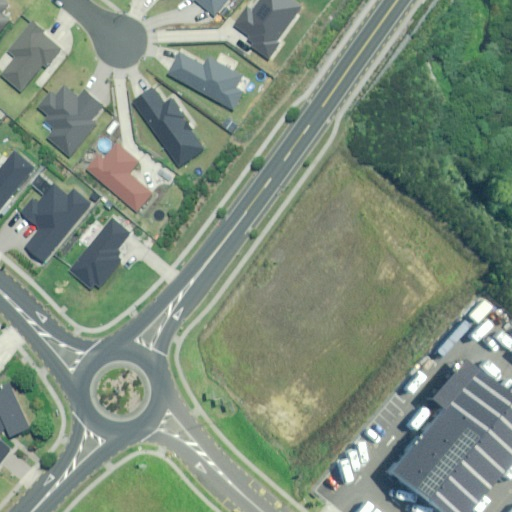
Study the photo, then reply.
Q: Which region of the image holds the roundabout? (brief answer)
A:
bottom left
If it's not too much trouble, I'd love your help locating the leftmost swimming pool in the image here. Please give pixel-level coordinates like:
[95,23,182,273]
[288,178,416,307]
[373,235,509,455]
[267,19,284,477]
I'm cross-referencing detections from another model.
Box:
[97,138,112,154]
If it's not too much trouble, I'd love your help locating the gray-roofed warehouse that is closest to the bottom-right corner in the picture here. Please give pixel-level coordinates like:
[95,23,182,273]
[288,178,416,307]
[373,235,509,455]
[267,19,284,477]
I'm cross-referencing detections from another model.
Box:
[386,358,512,512]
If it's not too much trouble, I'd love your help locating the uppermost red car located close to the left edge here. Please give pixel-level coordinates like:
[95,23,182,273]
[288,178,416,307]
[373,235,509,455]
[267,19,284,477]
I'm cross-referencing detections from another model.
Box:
[23,224,38,238]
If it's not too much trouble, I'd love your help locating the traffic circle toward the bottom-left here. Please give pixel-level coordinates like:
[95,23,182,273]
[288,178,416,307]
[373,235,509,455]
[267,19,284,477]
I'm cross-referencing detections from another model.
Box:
[72,342,170,440]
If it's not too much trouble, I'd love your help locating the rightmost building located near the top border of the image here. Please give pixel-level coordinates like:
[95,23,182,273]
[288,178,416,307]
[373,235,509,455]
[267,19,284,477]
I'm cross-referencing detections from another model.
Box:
[233,0,303,62]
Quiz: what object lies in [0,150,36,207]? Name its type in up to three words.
house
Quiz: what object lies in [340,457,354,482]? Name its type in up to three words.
vehicle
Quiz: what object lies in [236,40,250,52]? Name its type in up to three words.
vehicle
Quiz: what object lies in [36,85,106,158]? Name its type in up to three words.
house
